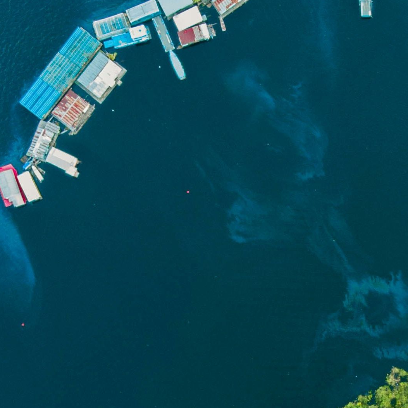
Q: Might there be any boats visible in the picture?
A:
Yes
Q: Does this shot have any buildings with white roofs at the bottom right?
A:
No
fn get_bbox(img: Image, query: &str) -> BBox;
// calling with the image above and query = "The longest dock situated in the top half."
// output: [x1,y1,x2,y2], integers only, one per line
[152,15,175,54]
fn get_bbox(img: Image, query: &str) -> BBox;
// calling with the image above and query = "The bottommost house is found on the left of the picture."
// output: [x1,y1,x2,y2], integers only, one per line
[46,147,83,176]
